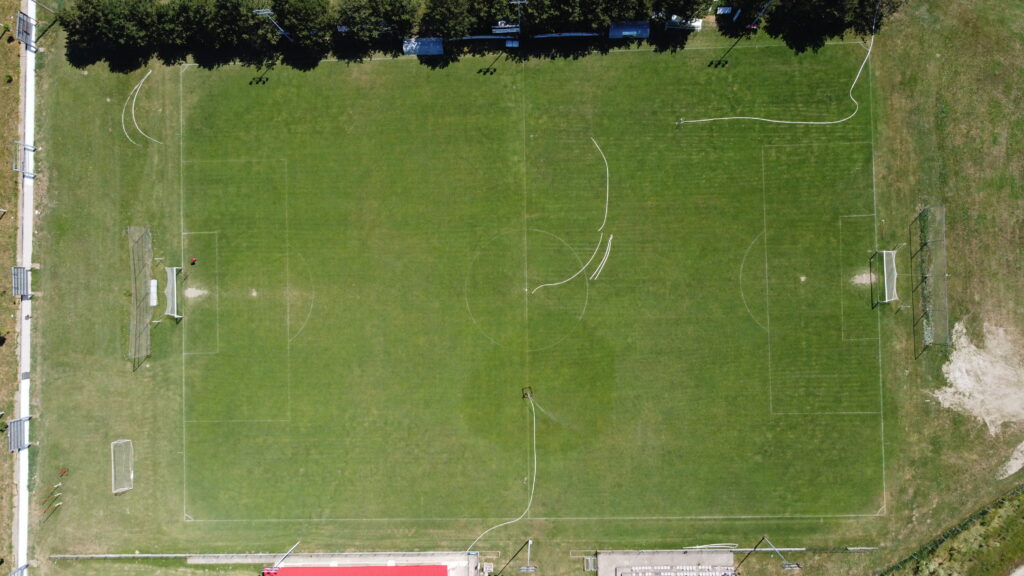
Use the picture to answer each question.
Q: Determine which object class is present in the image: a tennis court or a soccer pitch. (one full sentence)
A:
The image shows a soccer pitch.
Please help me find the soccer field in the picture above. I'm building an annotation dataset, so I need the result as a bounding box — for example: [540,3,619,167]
[180,41,886,535]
